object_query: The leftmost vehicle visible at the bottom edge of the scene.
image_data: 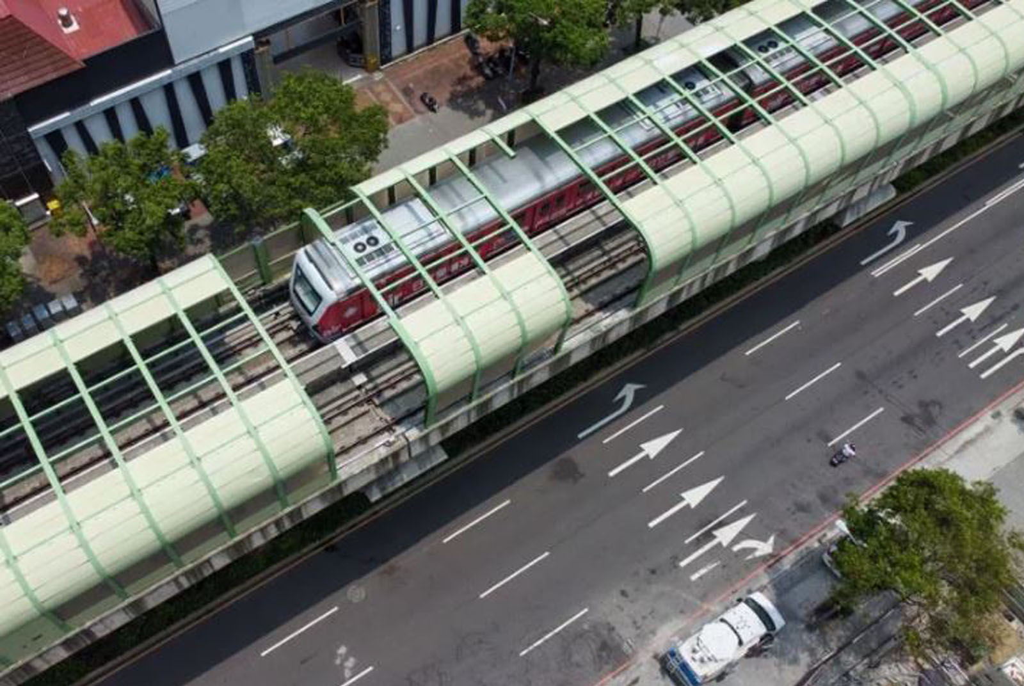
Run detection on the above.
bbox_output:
[658,587,778,686]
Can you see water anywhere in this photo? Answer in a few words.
No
